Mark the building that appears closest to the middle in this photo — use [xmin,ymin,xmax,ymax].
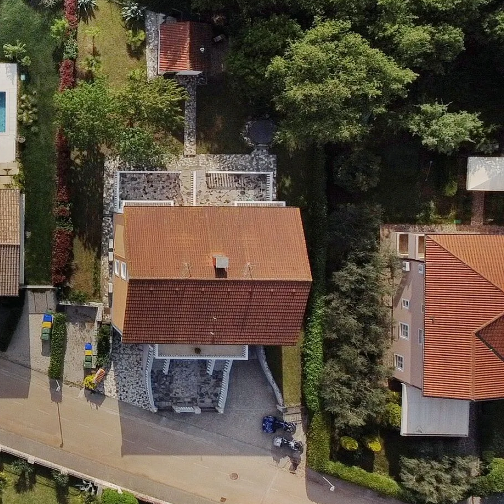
[112,171,313,418]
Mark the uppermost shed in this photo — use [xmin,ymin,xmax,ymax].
[154,20,214,75]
